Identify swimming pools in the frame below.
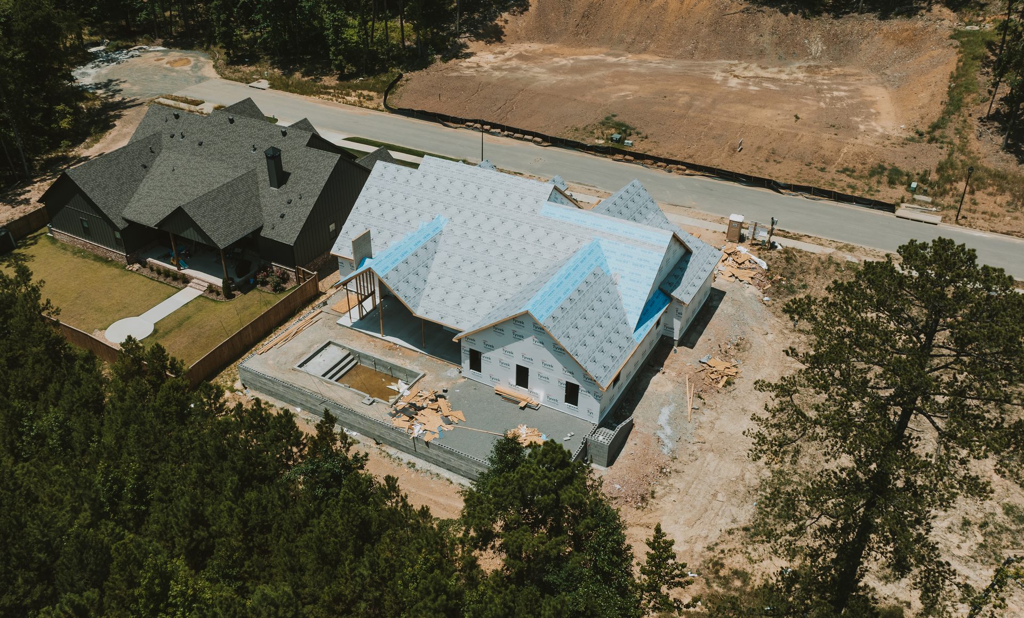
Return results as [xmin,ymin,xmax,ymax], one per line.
[293,339,424,406]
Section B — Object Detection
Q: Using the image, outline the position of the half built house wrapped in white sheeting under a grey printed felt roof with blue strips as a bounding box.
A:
[329,155,724,426]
